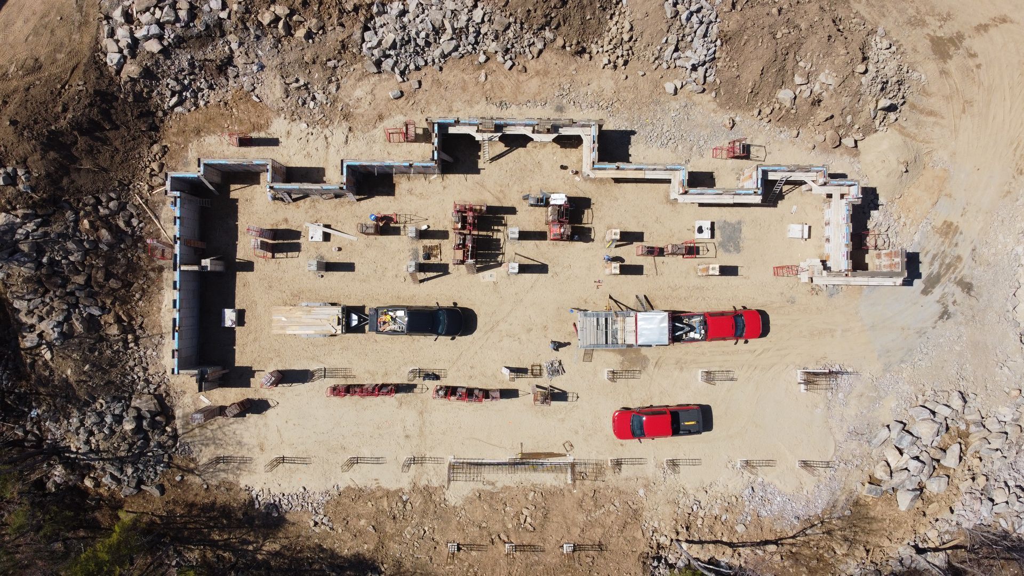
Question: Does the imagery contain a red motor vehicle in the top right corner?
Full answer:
No, I can find no red motor vehicle in the top right corner.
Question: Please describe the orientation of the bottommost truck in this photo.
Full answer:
In this picture, the bottommost truck lies horizontally.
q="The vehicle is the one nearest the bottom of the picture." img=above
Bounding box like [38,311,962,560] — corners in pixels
[611,404,701,443]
